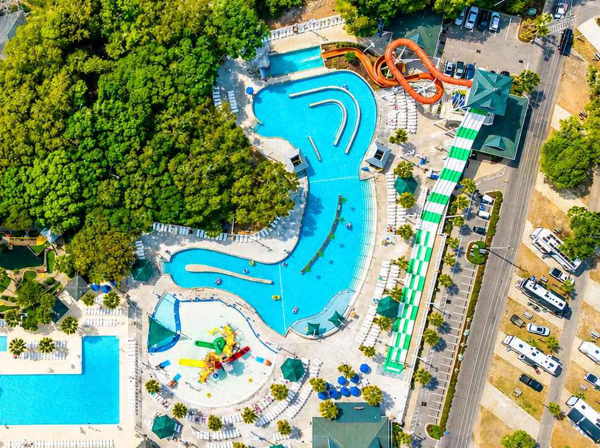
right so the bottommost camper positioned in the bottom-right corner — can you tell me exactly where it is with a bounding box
[557,395,600,446]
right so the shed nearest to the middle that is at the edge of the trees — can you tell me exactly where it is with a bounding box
[280,147,309,174]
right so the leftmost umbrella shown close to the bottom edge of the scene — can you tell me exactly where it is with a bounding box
[152,414,176,440]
